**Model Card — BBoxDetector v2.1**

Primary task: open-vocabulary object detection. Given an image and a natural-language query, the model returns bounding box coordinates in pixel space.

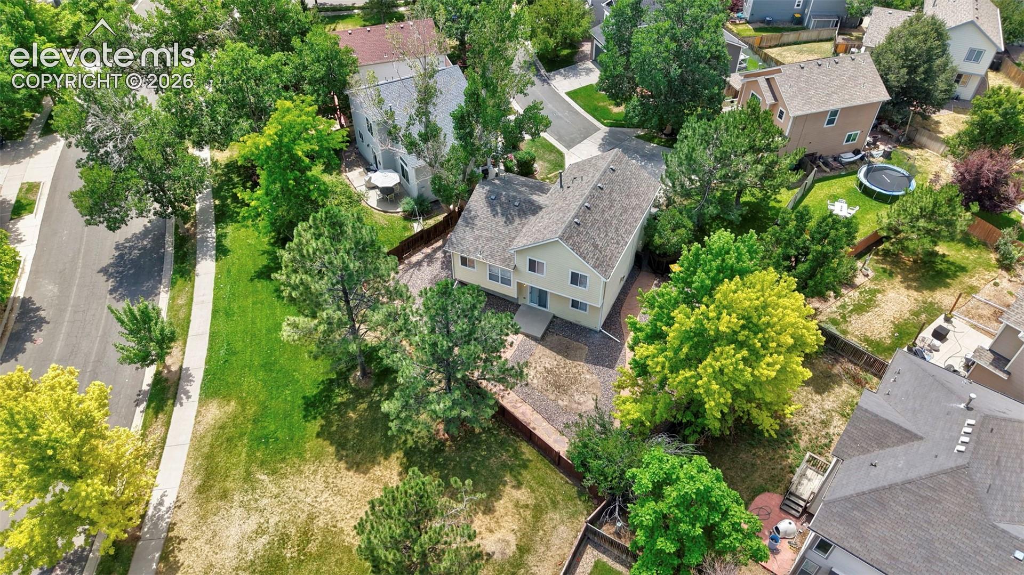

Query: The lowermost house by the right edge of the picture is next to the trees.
[793,346,1024,575]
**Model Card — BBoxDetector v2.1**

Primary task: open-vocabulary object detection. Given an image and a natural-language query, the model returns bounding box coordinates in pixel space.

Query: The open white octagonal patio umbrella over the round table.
[370,171,401,190]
